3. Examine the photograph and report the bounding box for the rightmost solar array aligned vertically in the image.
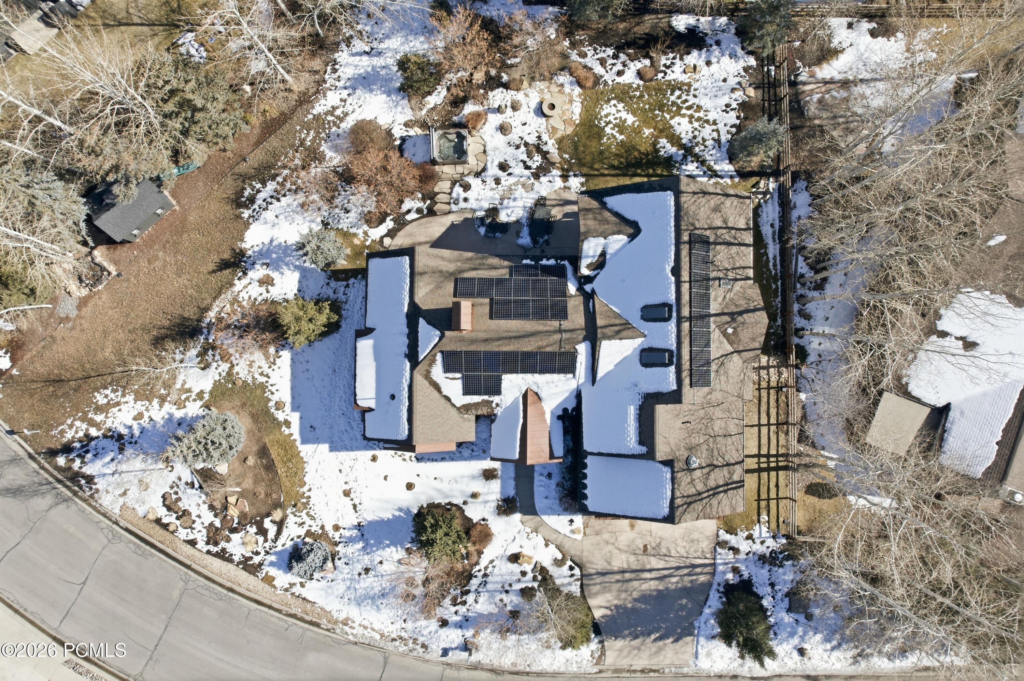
[692,233,711,390]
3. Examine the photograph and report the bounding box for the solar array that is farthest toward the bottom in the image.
[445,350,577,395]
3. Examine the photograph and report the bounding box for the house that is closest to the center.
[354,176,770,525]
